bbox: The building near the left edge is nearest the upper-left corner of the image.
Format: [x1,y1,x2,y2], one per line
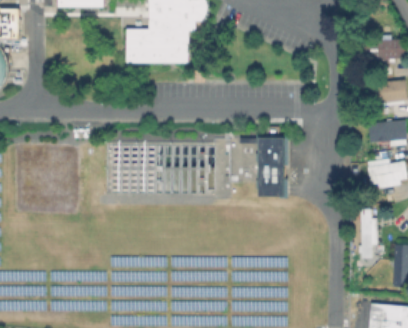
[0,8,18,38]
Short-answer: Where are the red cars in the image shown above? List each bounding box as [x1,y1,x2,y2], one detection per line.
[394,215,406,226]
[234,10,243,22]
